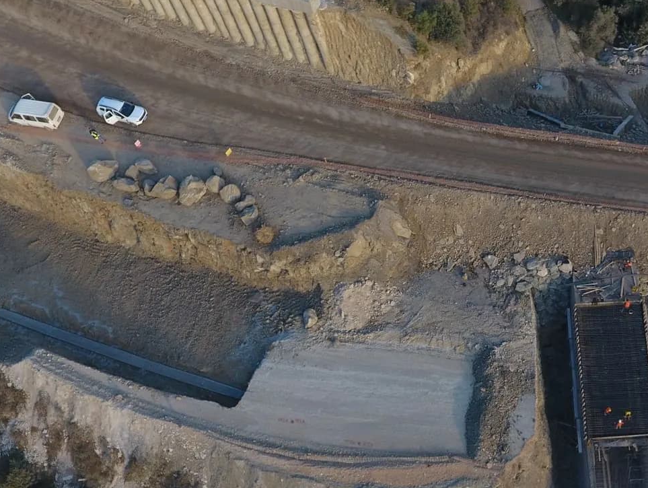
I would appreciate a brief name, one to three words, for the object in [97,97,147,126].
car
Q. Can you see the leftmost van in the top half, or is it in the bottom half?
top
